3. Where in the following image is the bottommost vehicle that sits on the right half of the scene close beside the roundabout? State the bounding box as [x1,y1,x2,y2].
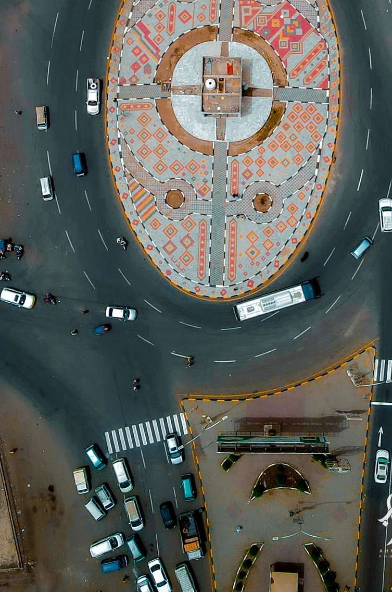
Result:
[232,277,324,324]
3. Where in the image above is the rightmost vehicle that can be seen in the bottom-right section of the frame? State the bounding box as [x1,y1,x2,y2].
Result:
[375,447,390,484]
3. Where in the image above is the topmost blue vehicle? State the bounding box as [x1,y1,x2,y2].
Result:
[73,151,88,176]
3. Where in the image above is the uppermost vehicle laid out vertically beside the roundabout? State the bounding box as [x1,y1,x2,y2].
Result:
[85,78,100,116]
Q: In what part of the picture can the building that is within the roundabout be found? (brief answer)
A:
top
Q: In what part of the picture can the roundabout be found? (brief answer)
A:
top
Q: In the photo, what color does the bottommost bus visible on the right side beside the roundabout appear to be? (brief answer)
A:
white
